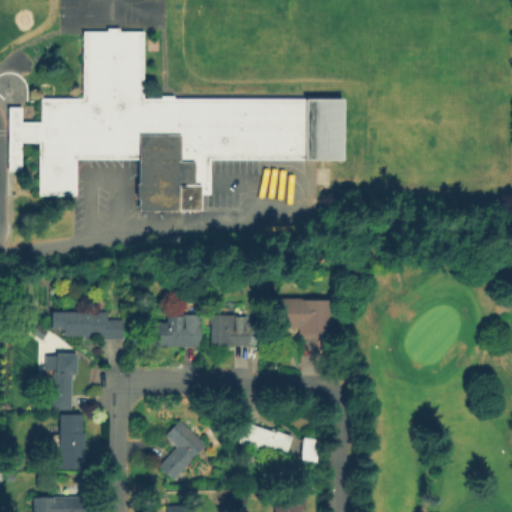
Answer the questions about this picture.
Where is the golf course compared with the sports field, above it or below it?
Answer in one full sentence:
In the image, the golf course sits below the sports field.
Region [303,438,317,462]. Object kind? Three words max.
building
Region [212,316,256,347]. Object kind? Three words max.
house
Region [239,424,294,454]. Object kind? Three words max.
house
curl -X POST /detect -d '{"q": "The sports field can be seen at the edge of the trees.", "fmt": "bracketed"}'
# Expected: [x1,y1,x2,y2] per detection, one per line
[170,0,512,196]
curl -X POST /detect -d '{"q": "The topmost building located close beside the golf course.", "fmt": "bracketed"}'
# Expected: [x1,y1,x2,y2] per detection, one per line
[9,28,346,212]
